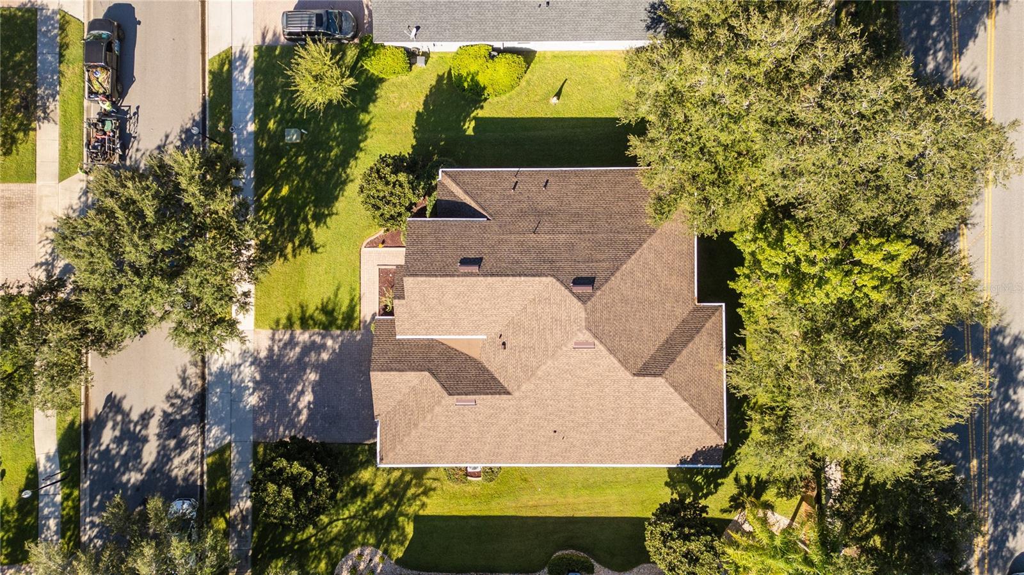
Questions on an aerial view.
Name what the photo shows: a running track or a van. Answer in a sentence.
The image shows a van.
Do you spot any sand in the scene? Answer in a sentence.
No, sand can't be seen anywhere here.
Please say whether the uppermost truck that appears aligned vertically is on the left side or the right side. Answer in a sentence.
The uppermost truck that appears aligned vertically appears in the left half of the scene.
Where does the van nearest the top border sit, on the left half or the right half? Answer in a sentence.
You can find the van nearest the top border on the left side of the picture.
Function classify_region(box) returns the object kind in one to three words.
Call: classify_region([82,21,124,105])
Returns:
truck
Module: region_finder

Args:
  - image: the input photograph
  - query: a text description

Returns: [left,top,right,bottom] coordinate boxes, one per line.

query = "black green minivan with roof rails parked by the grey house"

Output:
[282,8,358,46]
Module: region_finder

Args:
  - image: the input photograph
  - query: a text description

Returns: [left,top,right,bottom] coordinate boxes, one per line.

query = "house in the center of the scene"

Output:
[371,166,727,468]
